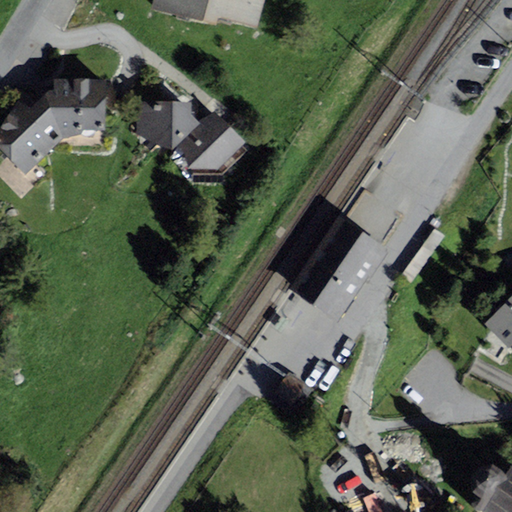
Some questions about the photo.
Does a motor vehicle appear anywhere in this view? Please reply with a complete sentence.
Yes, looking at the shot, I can spot a motor vehicle.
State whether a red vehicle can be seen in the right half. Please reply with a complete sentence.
Yes, I can see a red vehicle in the right half.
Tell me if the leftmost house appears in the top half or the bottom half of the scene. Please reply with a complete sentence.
The leftmost house sits in the top half of the picture.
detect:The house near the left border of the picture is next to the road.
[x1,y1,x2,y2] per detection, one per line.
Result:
[0,77,108,174]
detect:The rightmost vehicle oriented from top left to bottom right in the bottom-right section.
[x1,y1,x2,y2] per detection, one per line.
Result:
[402,384,428,406]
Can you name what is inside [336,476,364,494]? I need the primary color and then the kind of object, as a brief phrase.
red vehicle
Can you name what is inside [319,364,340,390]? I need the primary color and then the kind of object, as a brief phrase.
white vehicle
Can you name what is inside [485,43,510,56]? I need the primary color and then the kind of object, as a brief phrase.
black vehicle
